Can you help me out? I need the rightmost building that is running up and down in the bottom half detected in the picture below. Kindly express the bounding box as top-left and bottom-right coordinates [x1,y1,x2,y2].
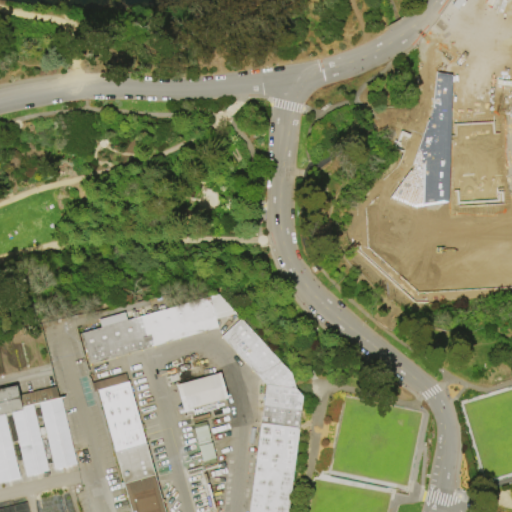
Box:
[222,320,304,512]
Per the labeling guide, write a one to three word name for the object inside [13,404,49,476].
building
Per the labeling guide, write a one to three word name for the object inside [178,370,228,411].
building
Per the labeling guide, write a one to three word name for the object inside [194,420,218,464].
shed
